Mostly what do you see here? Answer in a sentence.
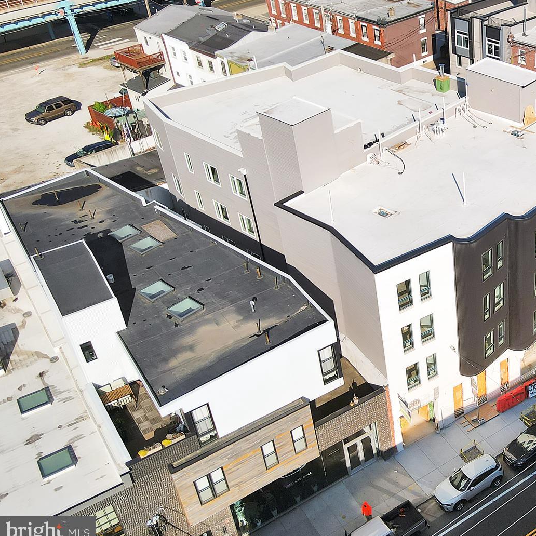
The scene is dominated by buildings.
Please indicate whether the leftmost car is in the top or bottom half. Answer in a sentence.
The leftmost car sits in the top half of the picture.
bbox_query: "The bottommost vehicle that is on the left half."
[60,134,118,168]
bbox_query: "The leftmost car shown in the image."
[21,95,77,126]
